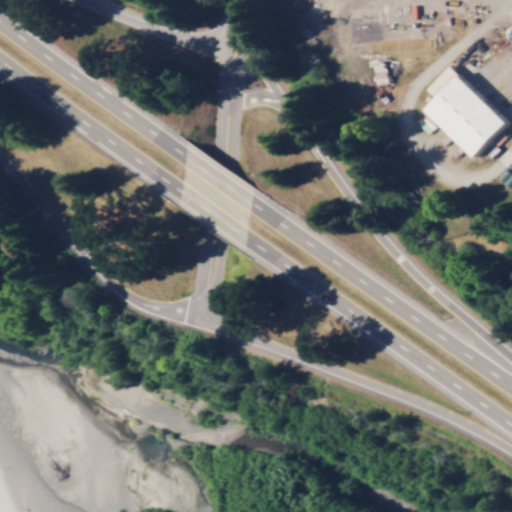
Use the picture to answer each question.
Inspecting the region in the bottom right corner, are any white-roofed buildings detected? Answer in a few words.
No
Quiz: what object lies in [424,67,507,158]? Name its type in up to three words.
building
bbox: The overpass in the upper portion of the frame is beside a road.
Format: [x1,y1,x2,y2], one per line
[170,130,266,261]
